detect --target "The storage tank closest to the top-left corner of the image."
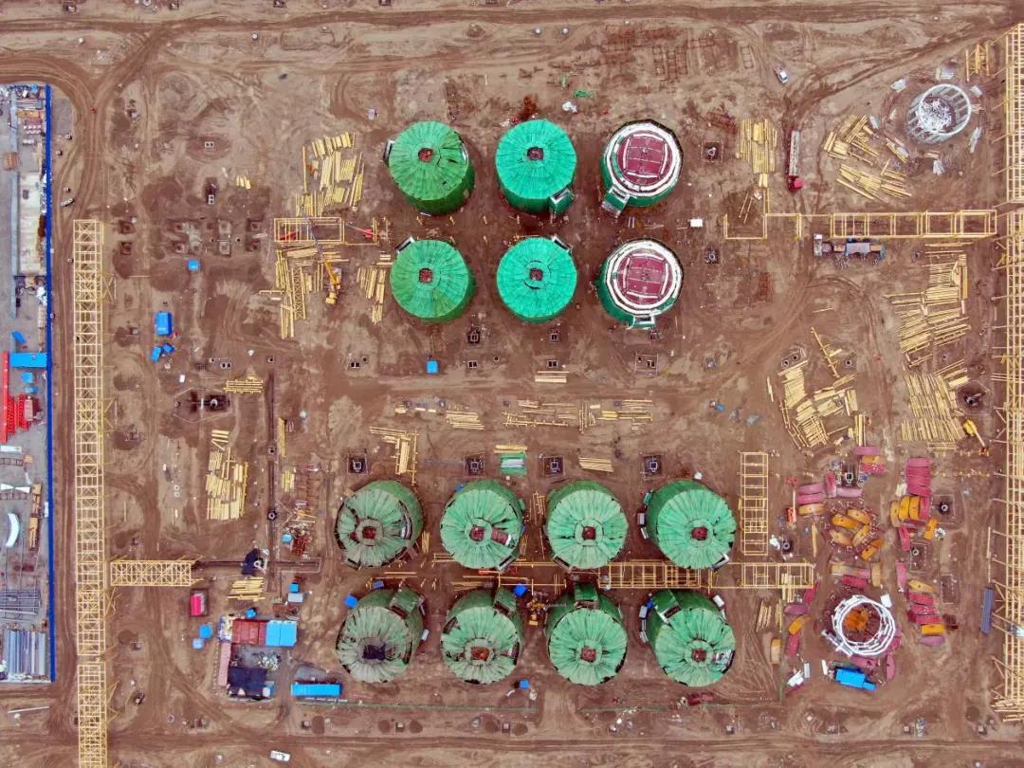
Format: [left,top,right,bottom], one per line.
[379,120,474,214]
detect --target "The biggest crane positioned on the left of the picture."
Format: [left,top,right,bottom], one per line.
[305,219,347,303]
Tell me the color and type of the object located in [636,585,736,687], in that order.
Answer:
green storage tank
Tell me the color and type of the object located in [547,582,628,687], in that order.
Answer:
green storage tank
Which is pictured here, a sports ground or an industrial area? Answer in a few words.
industrial area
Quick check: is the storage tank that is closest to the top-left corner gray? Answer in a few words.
No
